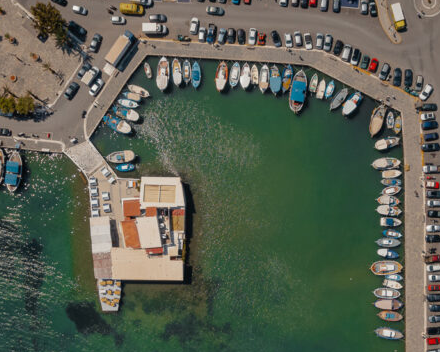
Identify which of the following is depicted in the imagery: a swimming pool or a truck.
truck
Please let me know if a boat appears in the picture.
Yes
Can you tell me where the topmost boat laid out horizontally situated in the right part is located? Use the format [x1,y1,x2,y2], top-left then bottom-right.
[375,137,404,150]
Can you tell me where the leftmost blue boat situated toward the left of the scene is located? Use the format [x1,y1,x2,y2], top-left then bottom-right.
[5,148,23,193]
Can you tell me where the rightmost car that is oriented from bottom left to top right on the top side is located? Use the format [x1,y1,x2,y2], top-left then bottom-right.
[419,84,434,101]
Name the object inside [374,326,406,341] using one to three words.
boat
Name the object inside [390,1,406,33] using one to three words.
vehicle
